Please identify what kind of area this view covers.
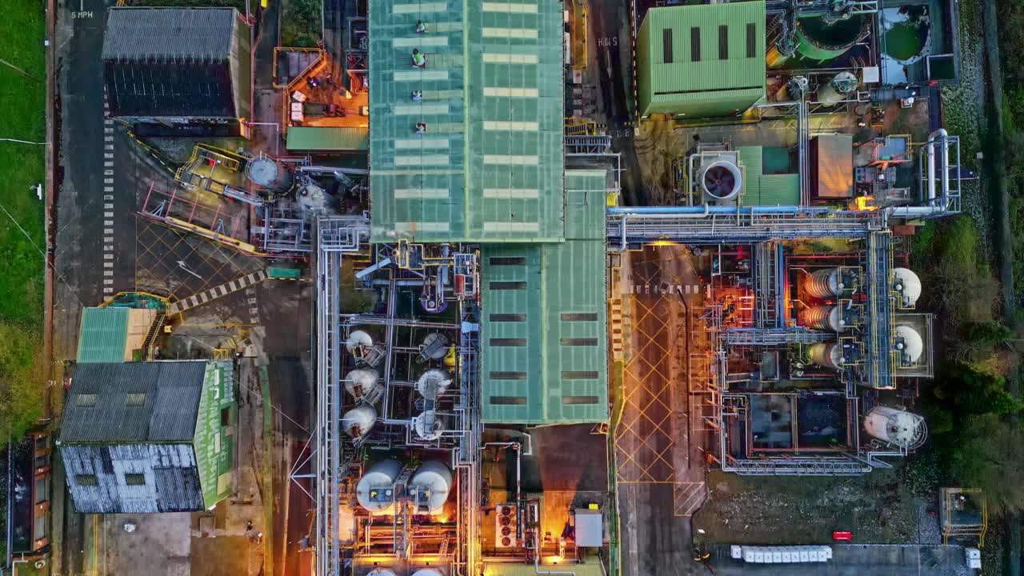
industrial area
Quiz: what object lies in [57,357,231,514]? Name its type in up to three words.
barn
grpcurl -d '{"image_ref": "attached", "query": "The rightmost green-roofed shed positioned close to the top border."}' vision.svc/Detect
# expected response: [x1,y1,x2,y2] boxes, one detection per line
[636,0,767,118]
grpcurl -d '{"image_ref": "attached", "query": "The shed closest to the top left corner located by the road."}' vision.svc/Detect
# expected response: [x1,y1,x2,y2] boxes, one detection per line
[98,6,258,141]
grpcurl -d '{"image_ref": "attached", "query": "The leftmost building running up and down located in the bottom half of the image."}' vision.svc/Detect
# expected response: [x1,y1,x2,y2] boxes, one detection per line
[7,428,53,570]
